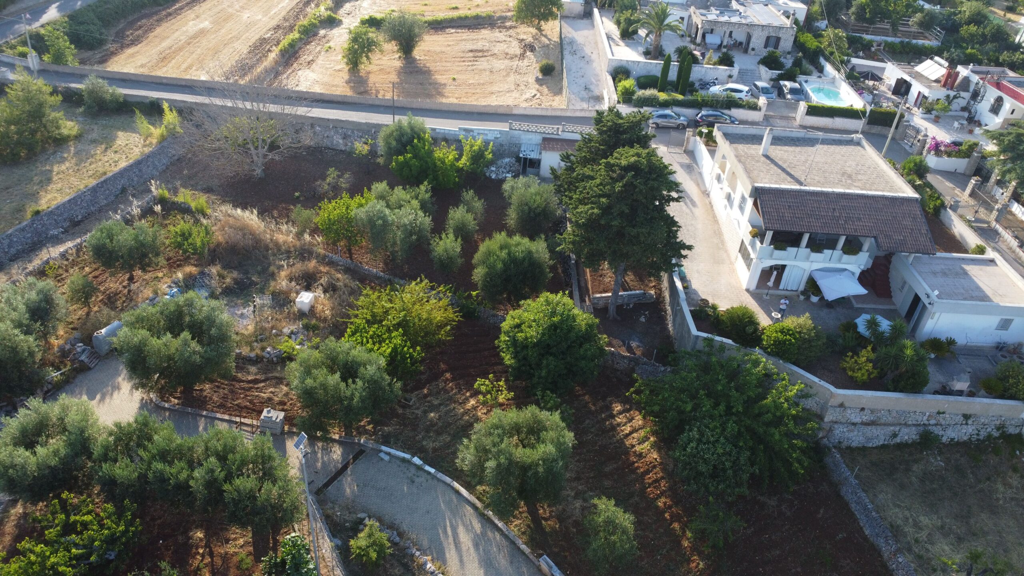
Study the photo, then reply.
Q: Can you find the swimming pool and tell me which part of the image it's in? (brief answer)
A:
top right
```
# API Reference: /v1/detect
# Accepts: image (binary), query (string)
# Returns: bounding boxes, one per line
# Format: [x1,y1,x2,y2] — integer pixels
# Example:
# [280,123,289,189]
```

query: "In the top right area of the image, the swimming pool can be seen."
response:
[803,78,849,115]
